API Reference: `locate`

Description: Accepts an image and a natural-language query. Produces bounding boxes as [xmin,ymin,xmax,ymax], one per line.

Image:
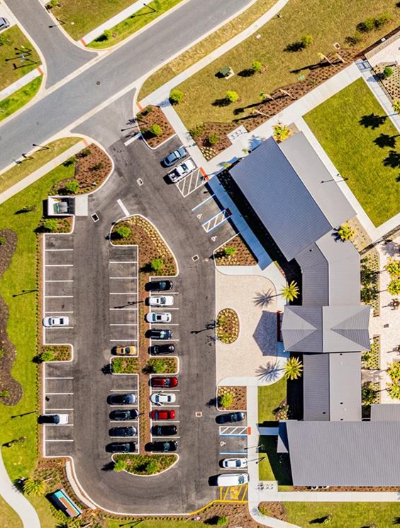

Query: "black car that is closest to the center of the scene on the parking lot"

[146,280,173,292]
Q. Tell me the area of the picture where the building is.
right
